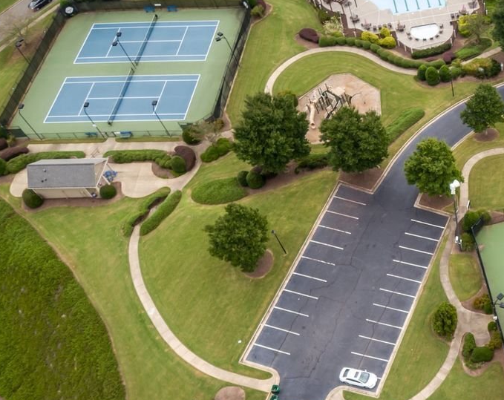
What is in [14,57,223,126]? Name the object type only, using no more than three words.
tennis court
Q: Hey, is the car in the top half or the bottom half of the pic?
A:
bottom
